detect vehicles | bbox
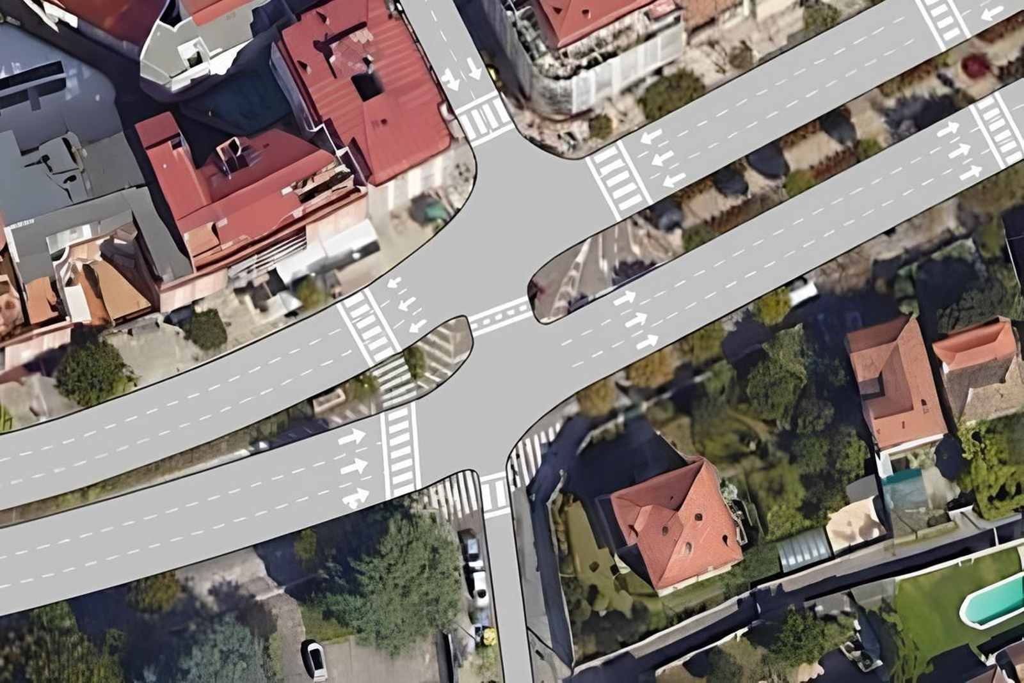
[303,639,326,683]
[786,278,819,305]
[466,529,483,566]
[476,606,493,643]
[566,290,592,310]
[472,569,490,608]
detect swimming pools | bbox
[959,574,1024,630]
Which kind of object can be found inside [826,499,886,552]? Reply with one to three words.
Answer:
building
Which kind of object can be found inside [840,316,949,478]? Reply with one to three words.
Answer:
house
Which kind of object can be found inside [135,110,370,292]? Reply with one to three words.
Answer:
house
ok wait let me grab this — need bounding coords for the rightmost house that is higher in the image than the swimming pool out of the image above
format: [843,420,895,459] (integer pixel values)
[929,318,1024,449]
